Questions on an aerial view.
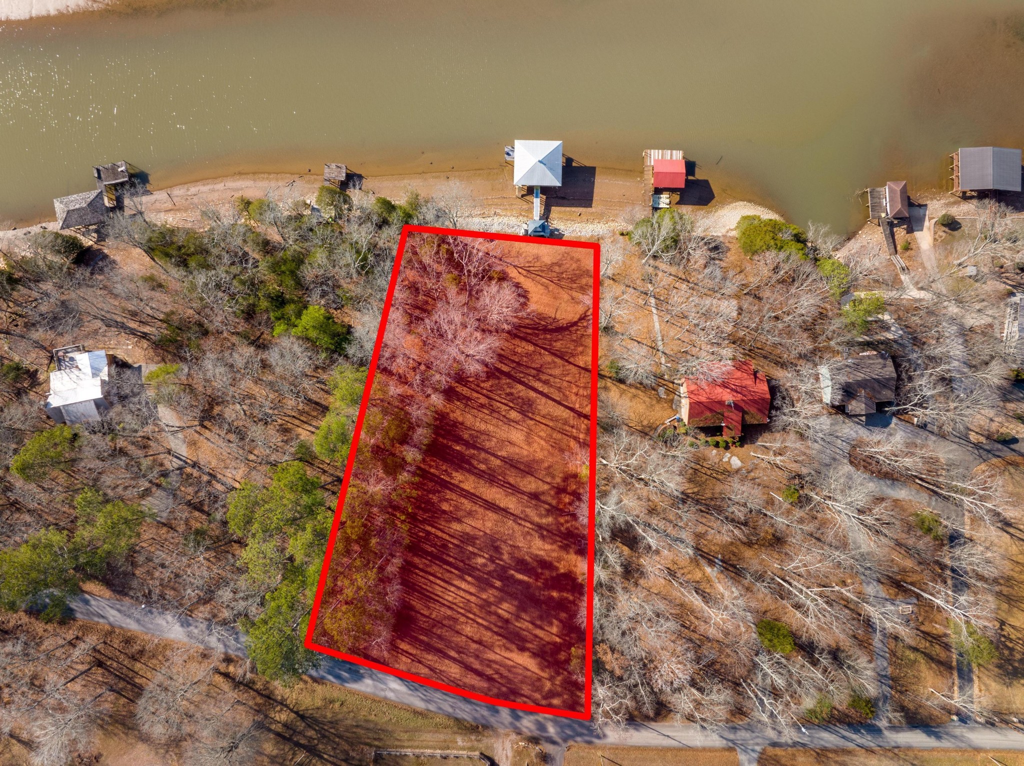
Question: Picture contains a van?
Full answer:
No, no van can be seen from above.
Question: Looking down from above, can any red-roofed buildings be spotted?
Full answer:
Yes, a red-roofed building is visible in the scene.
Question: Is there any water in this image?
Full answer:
Yes, the picture does contain water.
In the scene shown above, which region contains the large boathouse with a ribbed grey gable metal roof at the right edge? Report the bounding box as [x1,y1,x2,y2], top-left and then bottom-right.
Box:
[945,147,1021,196]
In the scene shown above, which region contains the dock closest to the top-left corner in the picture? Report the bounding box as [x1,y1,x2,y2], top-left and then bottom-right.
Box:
[89,158,136,209]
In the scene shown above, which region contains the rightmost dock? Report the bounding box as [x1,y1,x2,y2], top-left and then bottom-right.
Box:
[863,187,897,258]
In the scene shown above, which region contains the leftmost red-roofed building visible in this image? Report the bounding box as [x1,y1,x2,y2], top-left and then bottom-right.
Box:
[652,159,686,191]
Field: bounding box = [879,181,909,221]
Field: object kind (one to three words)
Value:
building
